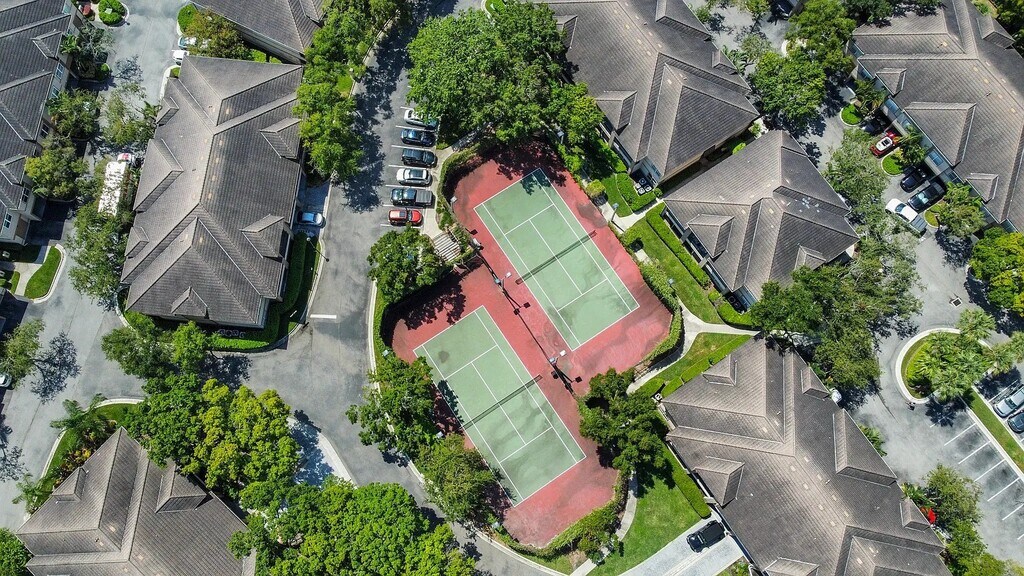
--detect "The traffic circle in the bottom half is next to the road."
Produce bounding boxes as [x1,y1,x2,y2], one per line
[895,328,997,406]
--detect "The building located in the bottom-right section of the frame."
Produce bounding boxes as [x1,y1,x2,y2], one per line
[659,335,950,576]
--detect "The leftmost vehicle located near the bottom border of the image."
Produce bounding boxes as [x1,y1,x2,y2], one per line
[685,523,726,551]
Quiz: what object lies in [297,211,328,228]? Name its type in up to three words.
car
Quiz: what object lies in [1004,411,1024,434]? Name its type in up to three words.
car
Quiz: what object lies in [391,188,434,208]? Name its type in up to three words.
vehicle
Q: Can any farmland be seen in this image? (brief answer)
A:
No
